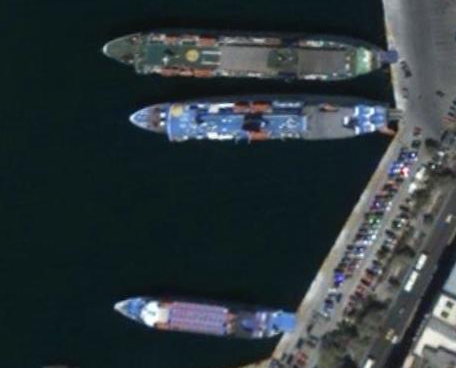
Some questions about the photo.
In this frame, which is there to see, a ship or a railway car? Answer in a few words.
ship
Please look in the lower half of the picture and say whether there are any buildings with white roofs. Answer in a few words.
Yes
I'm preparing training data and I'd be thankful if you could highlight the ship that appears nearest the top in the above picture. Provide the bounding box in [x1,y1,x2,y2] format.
[103,31,397,80]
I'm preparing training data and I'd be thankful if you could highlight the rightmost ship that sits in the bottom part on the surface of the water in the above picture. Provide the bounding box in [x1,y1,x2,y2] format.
[115,296,296,337]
